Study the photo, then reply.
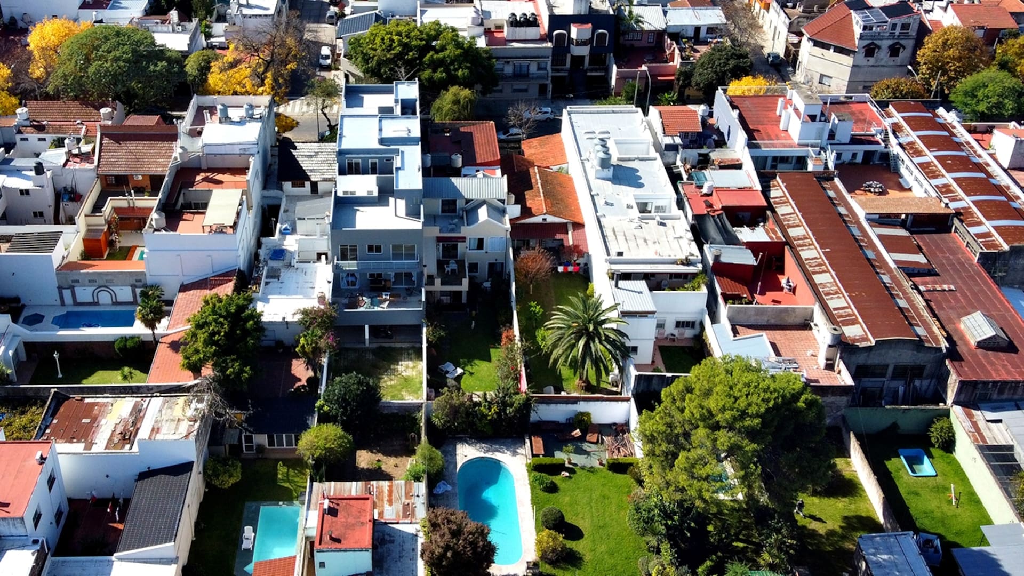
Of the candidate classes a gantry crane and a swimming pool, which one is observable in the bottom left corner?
swimming pool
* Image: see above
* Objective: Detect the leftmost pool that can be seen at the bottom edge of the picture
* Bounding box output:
[244,505,300,576]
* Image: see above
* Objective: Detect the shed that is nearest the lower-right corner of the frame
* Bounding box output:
[852,531,932,576]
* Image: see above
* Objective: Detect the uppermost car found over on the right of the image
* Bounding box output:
[768,48,783,65]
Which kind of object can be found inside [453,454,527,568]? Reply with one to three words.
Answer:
swimming pool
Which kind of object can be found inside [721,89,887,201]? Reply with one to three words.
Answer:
building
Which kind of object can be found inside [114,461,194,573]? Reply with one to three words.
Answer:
shed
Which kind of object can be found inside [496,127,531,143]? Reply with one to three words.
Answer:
car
